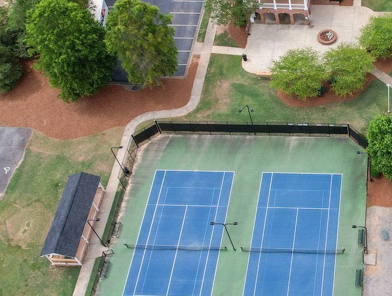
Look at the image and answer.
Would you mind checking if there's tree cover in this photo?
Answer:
Yes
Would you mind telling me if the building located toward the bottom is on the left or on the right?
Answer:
left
